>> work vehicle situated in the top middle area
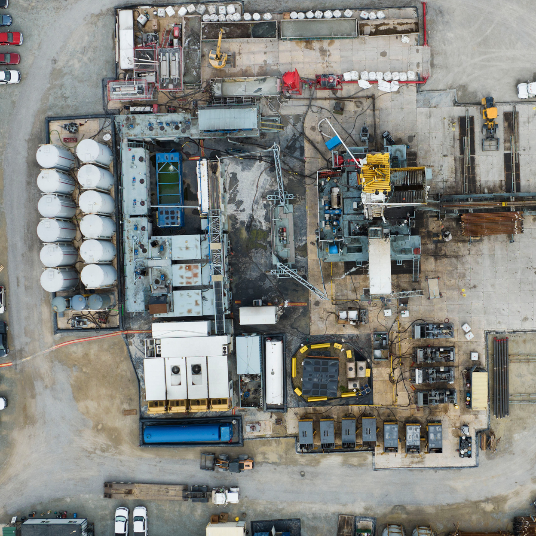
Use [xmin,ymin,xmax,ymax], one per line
[208,26,236,68]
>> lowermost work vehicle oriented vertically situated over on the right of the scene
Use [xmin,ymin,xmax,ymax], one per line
[479,95,499,151]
